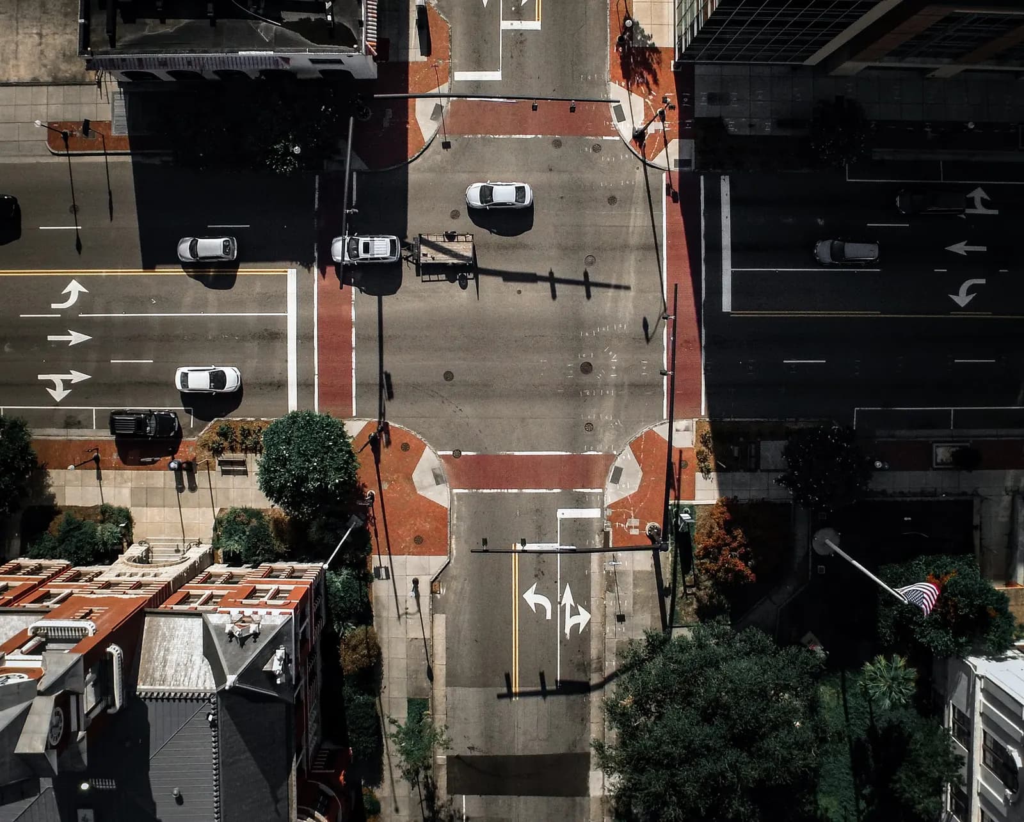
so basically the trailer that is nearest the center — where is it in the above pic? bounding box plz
[401,239,475,275]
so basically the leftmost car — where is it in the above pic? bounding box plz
[0,194,24,222]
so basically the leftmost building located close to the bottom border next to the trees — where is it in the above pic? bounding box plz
[0,525,361,822]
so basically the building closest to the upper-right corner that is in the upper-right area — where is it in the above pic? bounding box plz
[831,0,1024,68]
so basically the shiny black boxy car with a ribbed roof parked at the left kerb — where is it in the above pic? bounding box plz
[108,408,179,440]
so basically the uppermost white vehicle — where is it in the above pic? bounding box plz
[466,179,532,211]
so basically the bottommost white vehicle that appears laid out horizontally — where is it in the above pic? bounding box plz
[175,364,241,396]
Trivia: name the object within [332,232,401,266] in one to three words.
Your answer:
car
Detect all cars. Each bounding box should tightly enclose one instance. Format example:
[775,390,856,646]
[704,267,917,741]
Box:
[175,364,241,396]
[466,179,532,211]
[108,408,179,440]
[813,235,881,268]
[178,233,238,265]
[332,232,401,266]
[0,194,24,222]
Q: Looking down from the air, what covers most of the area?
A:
paved ground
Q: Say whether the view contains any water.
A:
No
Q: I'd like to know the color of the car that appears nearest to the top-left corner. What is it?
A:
black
